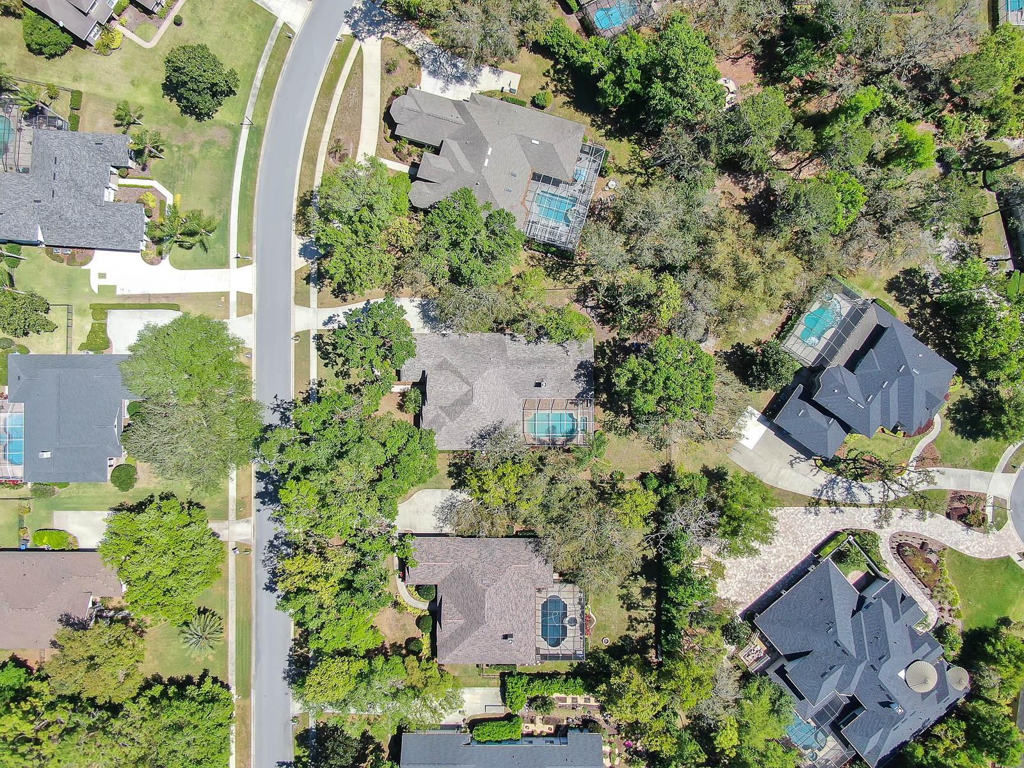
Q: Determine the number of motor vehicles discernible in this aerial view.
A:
zero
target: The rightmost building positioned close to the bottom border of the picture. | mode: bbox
[755,557,969,768]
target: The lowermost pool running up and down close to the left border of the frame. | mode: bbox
[0,412,23,467]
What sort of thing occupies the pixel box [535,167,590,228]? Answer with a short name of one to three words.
swimming pool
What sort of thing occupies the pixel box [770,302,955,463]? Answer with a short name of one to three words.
house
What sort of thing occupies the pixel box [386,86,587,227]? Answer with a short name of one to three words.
house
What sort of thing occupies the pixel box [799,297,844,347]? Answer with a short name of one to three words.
swimming pool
